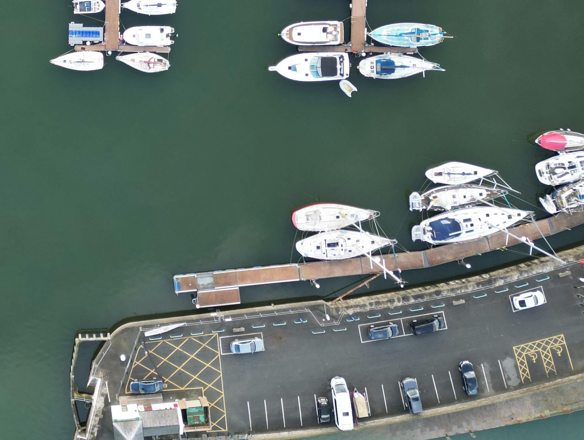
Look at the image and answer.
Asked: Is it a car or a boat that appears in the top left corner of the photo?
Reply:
boat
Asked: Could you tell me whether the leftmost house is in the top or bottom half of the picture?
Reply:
bottom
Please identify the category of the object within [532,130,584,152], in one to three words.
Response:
boat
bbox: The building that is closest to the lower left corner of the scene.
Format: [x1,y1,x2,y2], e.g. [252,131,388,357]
[111,401,184,440]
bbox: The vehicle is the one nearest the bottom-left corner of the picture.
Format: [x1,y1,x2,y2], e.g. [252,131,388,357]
[129,375,164,395]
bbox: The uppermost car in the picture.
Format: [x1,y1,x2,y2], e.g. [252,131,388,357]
[510,288,546,310]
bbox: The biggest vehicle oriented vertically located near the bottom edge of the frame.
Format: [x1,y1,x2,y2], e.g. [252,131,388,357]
[328,374,358,437]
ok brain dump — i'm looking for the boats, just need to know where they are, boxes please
[70,0,106,14]
[115,51,171,72]
[123,27,180,45]
[423,163,521,194]
[280,22,343,46]
[532,130,584,152]
[358,53,447,77]
[269,53,350,81]
[295,230,404,283]
[419,207,568,266]
[533,152,584,186]
[420,186,517,217]
[368,23,455,46]
[551,180,584,214]
[540,195,558,215]
[120,0,178,14]
[49,50,105,70]
[341,80,358,99]
[292,203,379,241]
[405,192,421,212]
[408,225,421,244]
